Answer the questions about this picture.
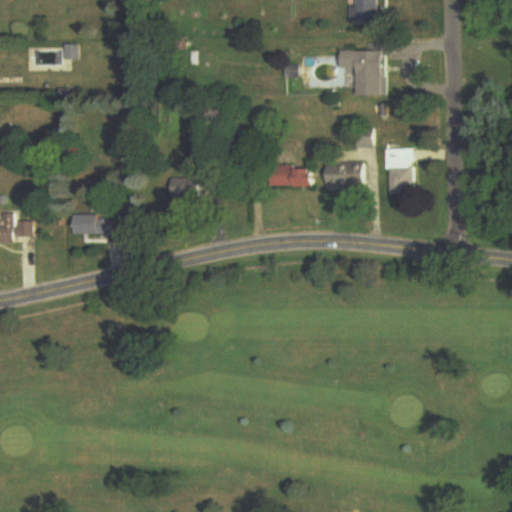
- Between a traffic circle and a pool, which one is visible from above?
pool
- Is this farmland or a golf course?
golf course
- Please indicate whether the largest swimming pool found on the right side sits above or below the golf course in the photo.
above it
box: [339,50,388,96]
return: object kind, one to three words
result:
house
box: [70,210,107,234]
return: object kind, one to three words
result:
house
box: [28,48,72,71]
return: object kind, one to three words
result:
swimming pool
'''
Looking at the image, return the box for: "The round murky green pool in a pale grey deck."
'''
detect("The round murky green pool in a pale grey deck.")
[304,56,345,88]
